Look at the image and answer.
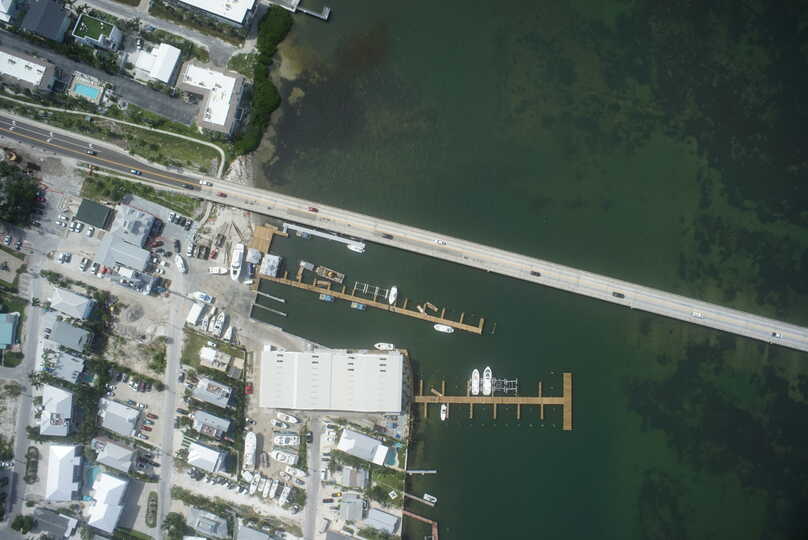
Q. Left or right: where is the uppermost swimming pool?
left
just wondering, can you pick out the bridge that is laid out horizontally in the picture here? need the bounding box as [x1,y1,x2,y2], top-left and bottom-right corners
[203,176,808,351]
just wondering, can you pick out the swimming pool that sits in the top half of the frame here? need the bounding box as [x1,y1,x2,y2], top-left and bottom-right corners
[68,73,108,105]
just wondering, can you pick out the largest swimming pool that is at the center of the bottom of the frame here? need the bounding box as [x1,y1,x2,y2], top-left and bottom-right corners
[384,447,399,467]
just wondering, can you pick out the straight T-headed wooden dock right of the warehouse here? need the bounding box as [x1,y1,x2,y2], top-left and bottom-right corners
[414,373,572,431]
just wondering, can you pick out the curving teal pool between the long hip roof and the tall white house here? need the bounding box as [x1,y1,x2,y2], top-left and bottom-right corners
[86,462,104,490]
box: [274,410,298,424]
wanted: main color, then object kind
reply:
white boat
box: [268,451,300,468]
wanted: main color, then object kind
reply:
white boat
